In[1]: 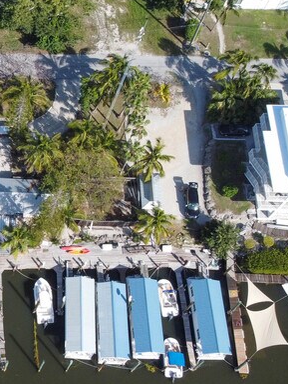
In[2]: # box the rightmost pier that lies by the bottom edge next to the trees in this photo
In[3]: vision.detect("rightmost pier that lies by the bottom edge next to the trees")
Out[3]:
[225,255,250,373]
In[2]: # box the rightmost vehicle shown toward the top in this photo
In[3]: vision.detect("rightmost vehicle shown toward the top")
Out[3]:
[215,122,252,137]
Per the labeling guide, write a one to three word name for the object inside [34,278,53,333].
boat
